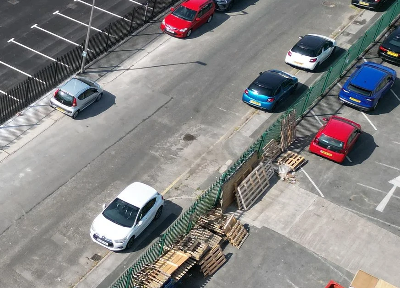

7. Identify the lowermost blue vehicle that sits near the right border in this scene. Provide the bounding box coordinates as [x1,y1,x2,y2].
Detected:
[340,61,400,114]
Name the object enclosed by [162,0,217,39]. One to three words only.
car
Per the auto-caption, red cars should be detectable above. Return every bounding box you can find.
[162,0,217,39]
[312,114,369,164]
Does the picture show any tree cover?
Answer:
No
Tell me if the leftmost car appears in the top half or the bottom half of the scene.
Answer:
top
